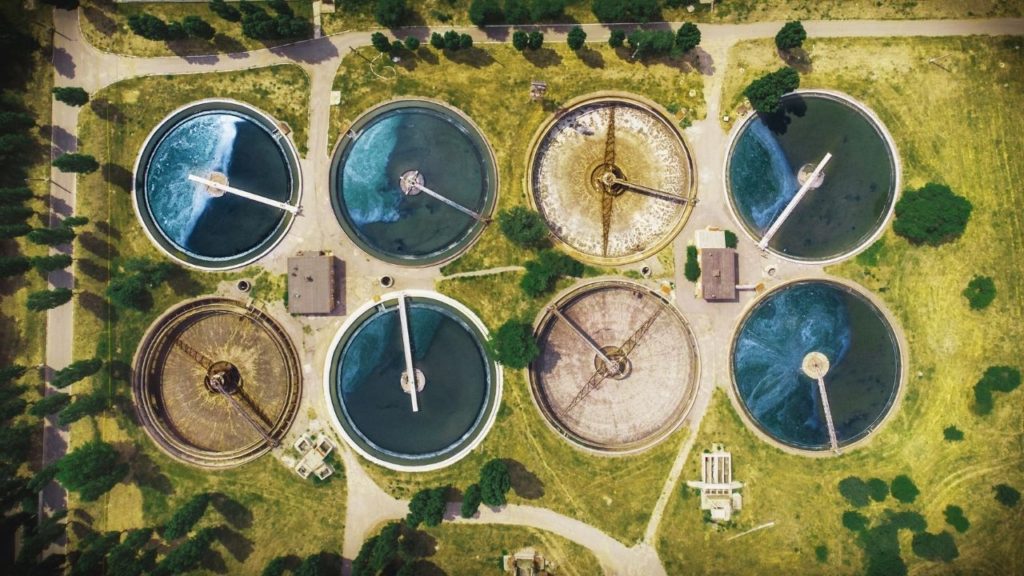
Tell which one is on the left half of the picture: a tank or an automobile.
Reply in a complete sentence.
The feature located on the left half of the picture is a tank.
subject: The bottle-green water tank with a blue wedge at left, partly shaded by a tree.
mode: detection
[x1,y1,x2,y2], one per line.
[722,88,900,265]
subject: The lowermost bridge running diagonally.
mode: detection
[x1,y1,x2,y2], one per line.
[214,382,279,449]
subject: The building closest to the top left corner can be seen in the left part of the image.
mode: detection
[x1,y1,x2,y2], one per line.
[288,251,335,313]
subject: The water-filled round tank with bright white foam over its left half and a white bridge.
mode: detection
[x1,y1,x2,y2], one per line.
[132,99,304,270]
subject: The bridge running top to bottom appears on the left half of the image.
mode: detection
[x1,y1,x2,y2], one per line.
[397,293,420,413]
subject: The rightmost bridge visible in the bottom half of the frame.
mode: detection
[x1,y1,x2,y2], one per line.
[818,370,842,453]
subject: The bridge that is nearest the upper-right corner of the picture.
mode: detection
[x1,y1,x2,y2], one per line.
[757,152,832,250]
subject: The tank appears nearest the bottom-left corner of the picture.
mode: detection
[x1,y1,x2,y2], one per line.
[132,296,304,468]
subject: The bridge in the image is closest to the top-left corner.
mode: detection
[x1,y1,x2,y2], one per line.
[190,173,301,216]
